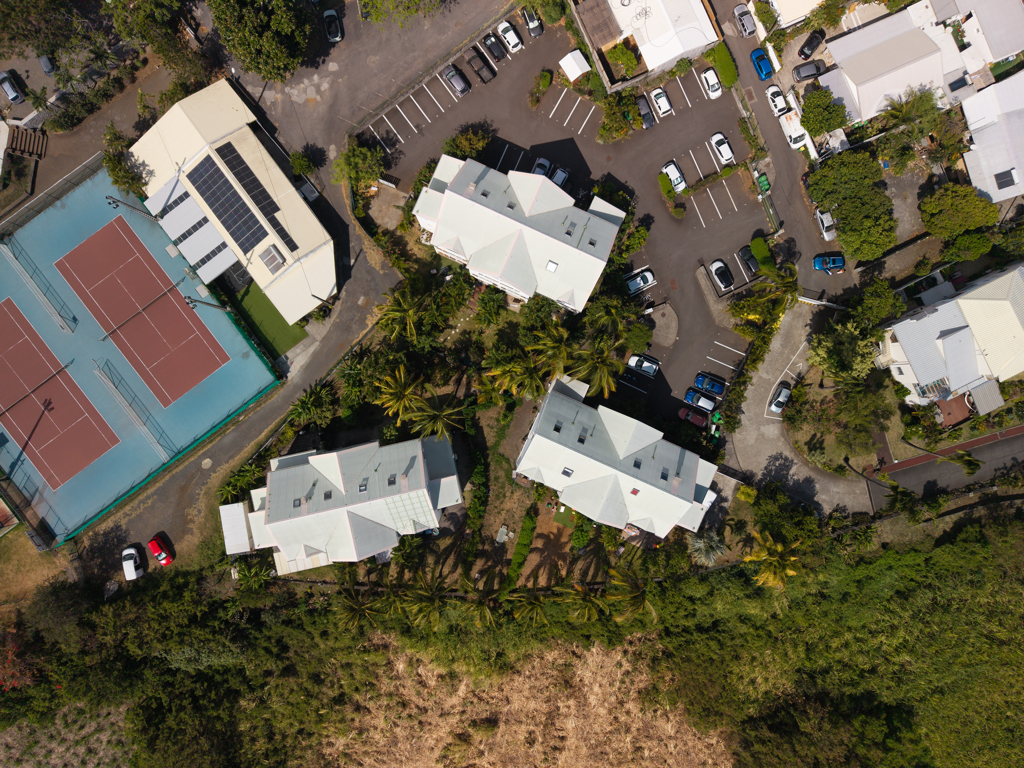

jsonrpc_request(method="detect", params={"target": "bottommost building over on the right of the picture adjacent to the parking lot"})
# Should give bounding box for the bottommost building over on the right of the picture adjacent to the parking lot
[516,374,718,539]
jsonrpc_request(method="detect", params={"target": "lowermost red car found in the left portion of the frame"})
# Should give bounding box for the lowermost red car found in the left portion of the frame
[150,534,175,566]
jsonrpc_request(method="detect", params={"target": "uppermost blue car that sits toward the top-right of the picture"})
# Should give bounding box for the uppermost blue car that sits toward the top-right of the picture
[749,49,772,82]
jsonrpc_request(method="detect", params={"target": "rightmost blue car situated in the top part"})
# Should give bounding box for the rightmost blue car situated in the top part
[811,255,845,278]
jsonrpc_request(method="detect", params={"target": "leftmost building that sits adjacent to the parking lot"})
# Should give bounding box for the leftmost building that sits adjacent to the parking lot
[130,78,340,325]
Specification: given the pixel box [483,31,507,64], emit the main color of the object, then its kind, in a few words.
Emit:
black car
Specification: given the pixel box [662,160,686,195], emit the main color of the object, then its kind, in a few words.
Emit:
white car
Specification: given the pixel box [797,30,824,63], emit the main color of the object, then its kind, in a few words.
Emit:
black car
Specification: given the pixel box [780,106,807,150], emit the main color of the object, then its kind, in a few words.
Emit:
white vehicle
